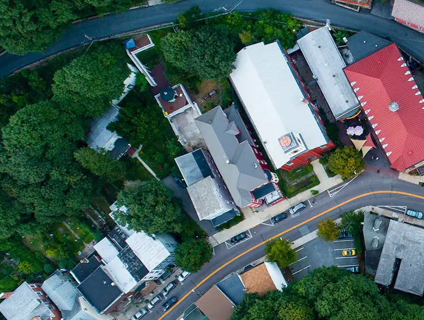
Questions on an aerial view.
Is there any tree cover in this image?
Yes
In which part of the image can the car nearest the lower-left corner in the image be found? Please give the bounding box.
[131,308,148,320]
